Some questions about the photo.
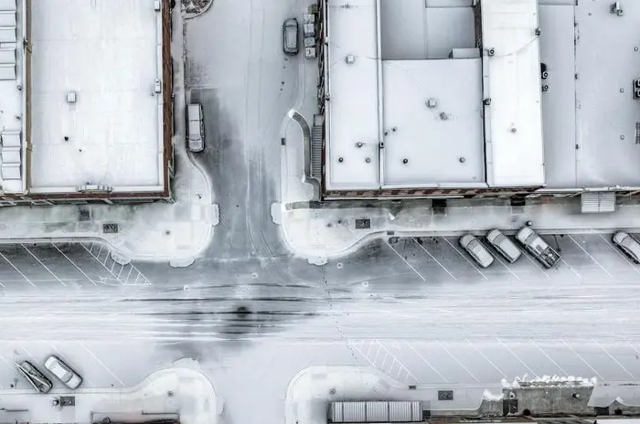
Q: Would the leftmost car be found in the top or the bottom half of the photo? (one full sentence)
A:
You can find the leftmost car in the bottom half.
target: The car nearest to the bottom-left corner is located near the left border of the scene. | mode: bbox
[21,361,54,394]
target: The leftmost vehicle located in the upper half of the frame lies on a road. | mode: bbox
[185,104,205,153]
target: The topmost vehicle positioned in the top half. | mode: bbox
[282,17,299,57]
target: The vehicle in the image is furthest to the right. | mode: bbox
[611,230,640,266]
